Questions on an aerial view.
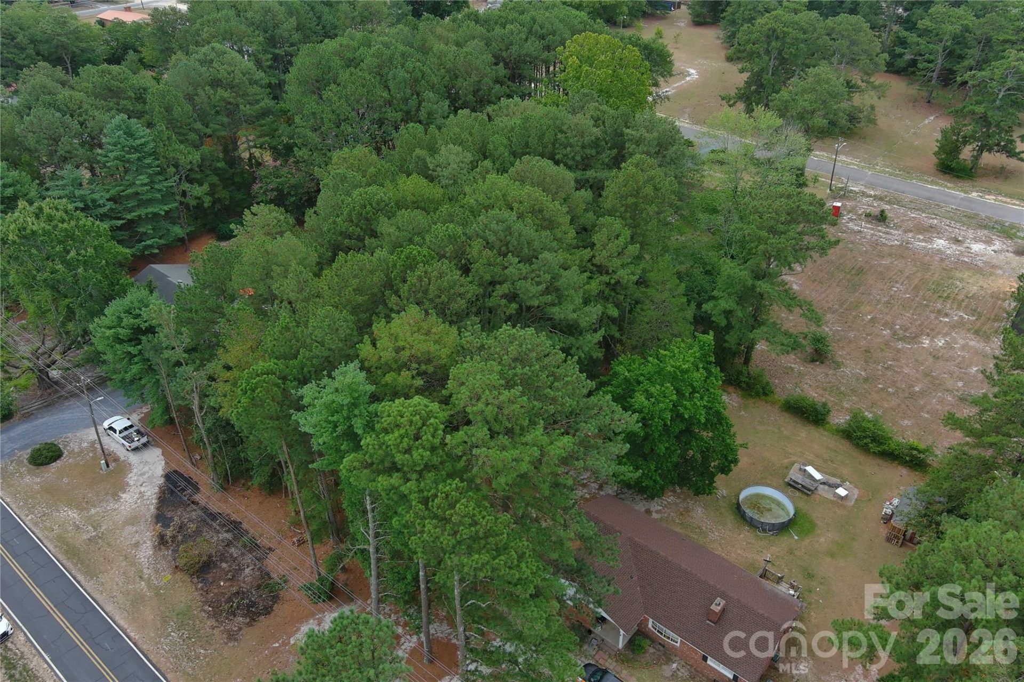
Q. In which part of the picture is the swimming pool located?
bottom right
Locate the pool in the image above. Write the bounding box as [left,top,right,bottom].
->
[734,485,795,533]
